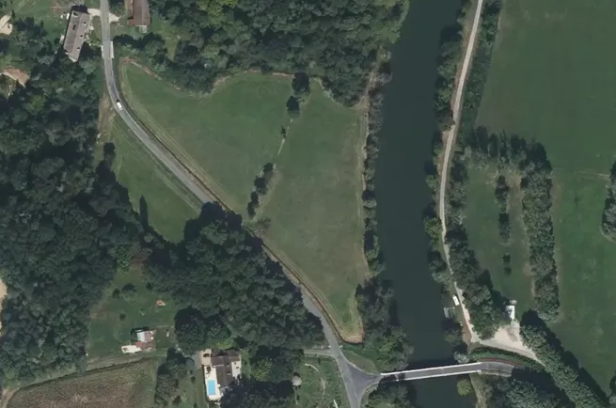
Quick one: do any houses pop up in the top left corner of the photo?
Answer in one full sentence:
Yes, a house can be seen in the top left corner of the photo.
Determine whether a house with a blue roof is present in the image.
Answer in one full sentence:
No, the picture doesn't show any house with a blue roof.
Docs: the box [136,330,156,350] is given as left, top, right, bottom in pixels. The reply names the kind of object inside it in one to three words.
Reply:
house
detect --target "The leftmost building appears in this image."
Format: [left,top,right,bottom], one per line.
[64,8,89,61]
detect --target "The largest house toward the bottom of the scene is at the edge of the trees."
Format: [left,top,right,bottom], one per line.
[210,350,240,390]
